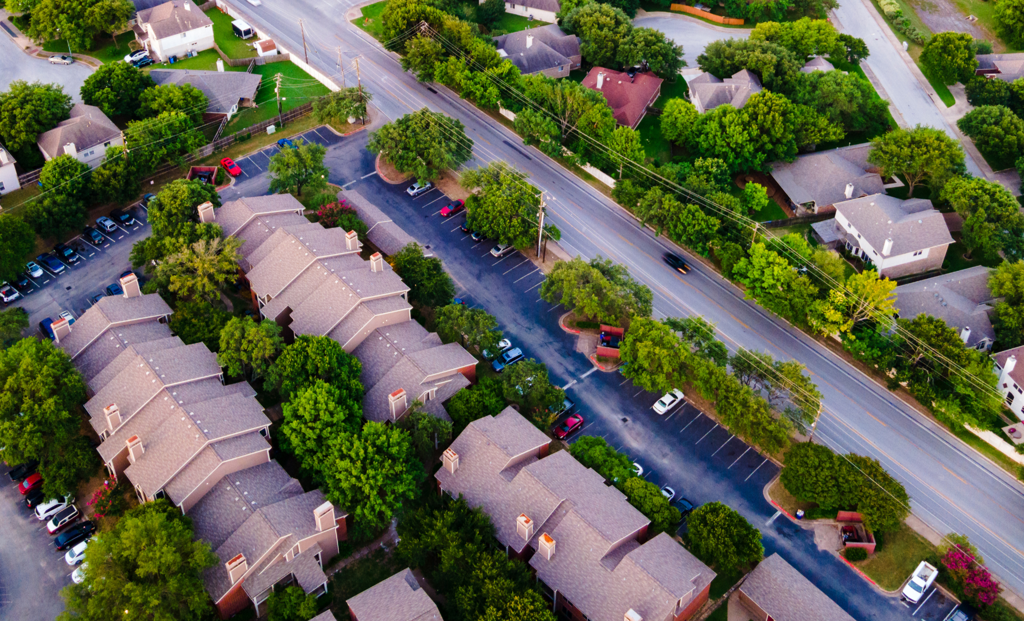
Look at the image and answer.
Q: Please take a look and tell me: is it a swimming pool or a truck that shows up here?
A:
truck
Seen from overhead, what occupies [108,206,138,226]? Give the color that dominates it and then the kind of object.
black car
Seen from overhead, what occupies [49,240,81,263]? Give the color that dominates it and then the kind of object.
black truck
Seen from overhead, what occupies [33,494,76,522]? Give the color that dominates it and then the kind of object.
white car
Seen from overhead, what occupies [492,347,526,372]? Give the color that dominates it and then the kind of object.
blue car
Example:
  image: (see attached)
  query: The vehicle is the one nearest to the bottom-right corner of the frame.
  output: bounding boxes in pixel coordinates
[946,601,974,621]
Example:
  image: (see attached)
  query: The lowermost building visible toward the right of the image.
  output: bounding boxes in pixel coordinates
[736,554,856,621]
